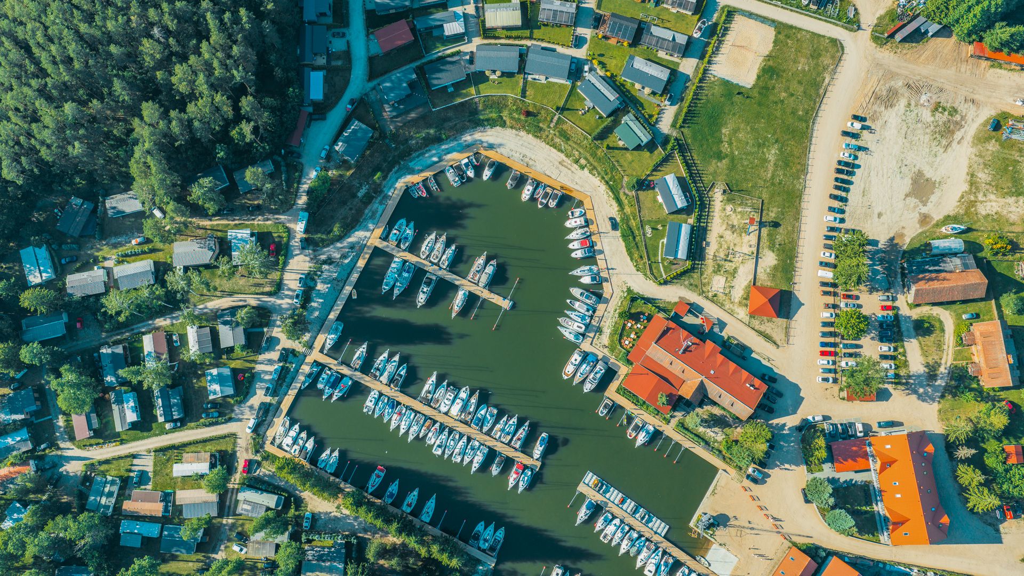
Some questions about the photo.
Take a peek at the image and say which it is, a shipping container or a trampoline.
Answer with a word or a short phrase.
shipping container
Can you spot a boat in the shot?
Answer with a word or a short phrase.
Yes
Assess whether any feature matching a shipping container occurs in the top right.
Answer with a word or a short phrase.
Yes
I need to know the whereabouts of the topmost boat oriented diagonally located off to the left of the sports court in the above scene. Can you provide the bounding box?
[690,18,707,39]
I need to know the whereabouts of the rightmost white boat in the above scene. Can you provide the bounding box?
[939,218,981,235]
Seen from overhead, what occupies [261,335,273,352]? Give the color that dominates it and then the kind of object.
blue vehicle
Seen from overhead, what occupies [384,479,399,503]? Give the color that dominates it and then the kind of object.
blue boat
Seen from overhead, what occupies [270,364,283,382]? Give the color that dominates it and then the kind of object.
blue vehicle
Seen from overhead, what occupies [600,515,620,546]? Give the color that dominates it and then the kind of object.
white boat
